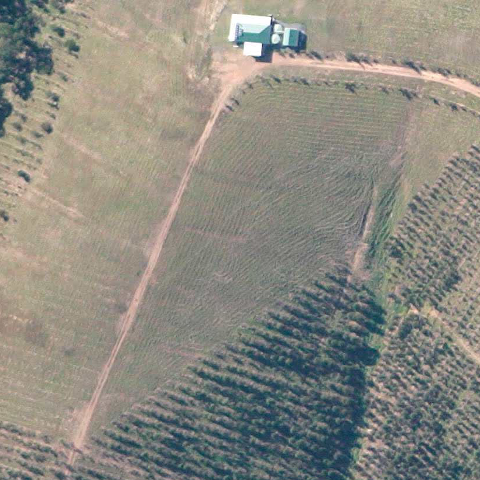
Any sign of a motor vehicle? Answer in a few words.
No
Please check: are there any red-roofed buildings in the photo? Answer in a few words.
No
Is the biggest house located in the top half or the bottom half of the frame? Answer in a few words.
top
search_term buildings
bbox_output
[283,28,298,46]
[229,14,272,44]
